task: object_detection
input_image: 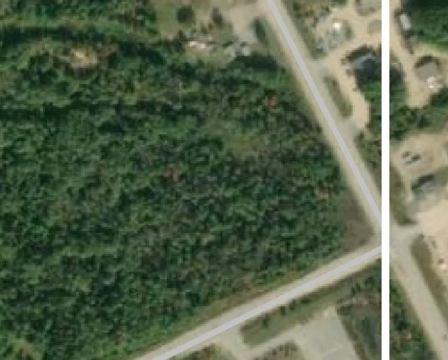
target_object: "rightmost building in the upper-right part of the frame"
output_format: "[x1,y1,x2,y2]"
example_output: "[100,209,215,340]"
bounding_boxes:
[413,57,442,81]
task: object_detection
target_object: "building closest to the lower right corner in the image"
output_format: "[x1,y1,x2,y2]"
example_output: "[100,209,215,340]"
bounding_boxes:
[407,175,444,202]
